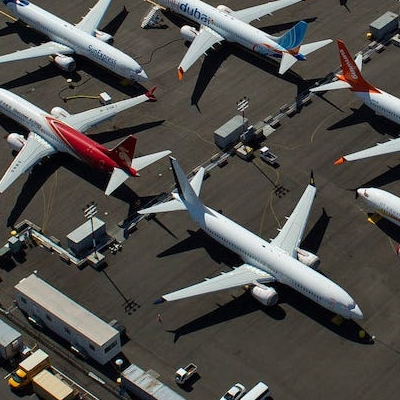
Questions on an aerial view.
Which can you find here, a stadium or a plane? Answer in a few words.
plane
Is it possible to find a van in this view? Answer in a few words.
Yes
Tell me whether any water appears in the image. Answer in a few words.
No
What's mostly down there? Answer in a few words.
paved ground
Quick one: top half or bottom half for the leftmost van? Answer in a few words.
bottom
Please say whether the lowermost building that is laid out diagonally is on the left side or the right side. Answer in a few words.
left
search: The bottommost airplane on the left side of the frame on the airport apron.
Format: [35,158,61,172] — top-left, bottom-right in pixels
[0,86,172,194]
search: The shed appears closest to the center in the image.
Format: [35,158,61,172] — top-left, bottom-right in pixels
[212,114,248,149]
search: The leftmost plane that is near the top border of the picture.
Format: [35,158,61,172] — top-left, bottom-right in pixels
[0,0,145,79]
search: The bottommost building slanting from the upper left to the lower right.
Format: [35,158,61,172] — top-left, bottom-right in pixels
[15,274,125,358]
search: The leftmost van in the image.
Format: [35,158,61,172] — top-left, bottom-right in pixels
[7,349,46,392]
